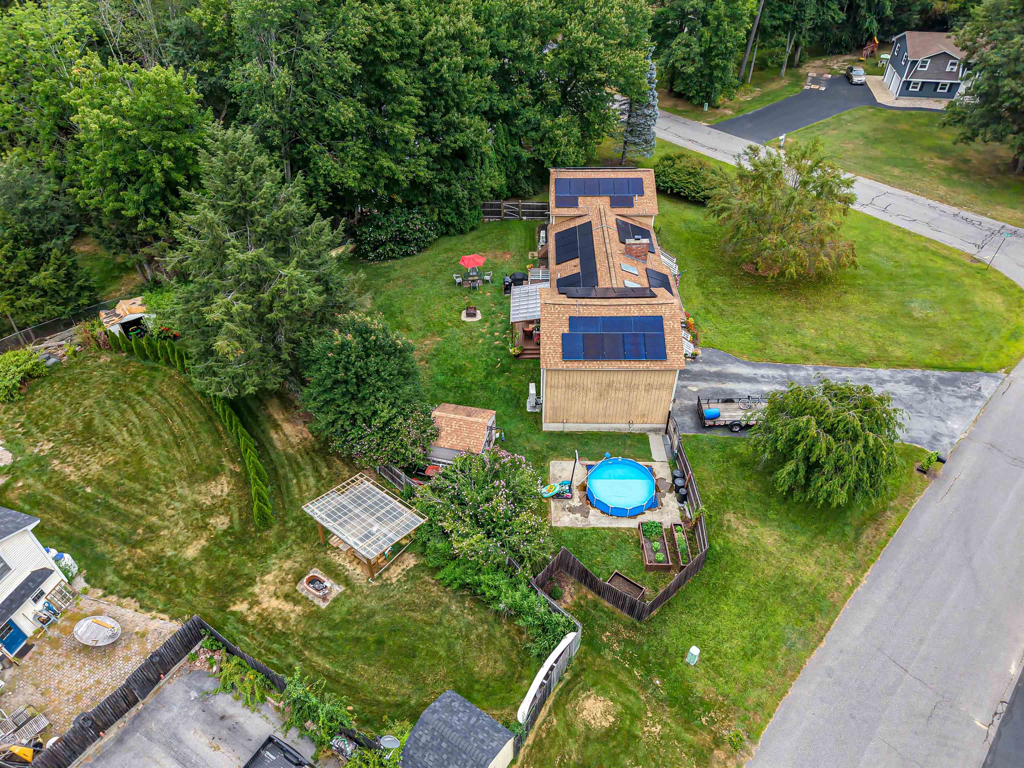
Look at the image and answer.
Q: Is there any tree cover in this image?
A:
Yes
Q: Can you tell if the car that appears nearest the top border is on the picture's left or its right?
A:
right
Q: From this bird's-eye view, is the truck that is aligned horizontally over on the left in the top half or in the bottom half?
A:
bottom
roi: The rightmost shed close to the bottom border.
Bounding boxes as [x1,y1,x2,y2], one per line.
[391,691,517,768]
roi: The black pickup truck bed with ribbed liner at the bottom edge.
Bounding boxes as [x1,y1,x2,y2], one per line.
[240,734,313,768]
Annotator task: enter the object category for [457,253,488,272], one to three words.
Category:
umbrella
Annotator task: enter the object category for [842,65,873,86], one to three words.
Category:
car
